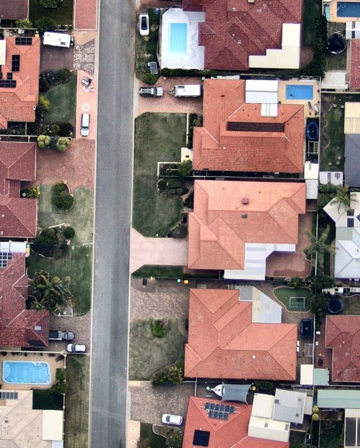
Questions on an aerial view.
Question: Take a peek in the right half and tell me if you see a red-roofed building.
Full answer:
Yes, looking in the right half, one can make out a red-roofed building.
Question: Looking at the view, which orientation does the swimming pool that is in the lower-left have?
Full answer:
The swimming pool that is in the lower-left is laid out horizontally.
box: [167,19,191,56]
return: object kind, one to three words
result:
swimming pool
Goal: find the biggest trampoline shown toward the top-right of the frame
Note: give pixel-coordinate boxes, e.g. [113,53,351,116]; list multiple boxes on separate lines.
[329,32,346,52]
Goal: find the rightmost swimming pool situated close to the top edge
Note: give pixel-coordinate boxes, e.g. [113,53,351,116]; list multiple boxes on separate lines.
[332,0,360,19]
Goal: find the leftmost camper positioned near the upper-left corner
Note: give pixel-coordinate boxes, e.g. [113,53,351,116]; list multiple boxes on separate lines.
[43,31,75,46]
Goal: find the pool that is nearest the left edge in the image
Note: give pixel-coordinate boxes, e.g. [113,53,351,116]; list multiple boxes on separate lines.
[1,359,52,385]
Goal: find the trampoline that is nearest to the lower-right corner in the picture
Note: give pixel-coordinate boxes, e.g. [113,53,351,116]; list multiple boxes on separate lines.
[301,318,314,338]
